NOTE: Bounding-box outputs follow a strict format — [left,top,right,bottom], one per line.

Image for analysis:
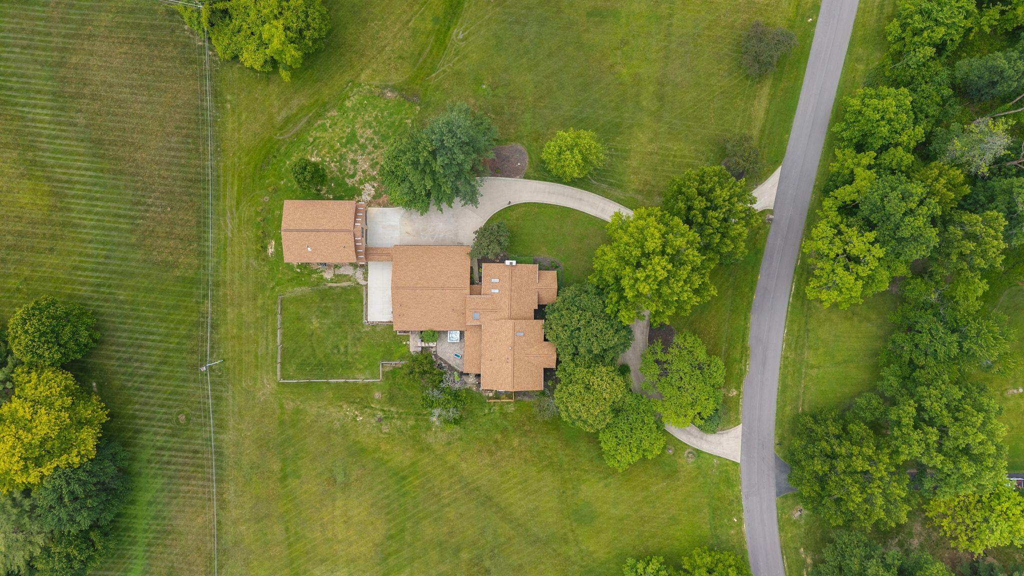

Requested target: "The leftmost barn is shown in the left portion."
[280,200,371,264]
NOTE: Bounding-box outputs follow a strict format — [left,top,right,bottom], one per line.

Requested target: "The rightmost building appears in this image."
[392,245,557,391]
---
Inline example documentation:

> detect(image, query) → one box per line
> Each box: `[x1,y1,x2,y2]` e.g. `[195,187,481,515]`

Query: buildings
[280,200,371,264]
[392,245,557,391]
